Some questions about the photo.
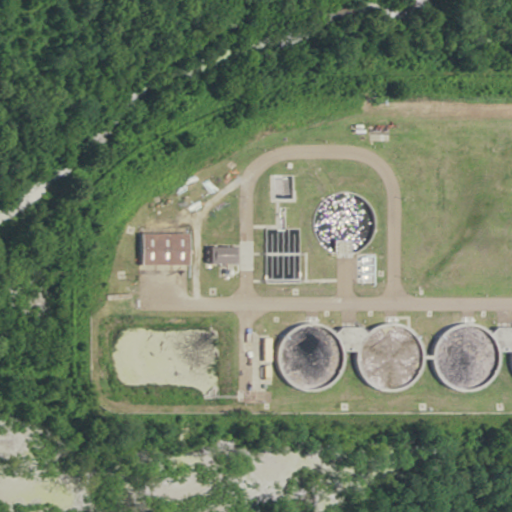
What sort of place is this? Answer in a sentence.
This looks like an industrial area.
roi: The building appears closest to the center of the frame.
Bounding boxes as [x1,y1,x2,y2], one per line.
[204,246,240,264]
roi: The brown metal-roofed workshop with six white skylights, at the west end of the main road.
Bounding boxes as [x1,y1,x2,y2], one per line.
[143,234,191,264]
